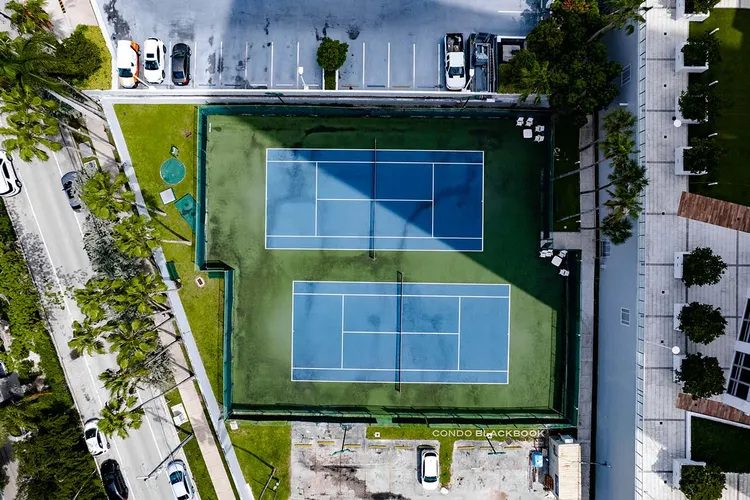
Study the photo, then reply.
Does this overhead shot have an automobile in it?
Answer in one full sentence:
Yes, the picture does show an automobile.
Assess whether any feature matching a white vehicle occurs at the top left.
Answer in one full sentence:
Yes, a white vehicle can be seen at the top left.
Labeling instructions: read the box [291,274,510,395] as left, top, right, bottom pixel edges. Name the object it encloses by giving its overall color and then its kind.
blue tennis court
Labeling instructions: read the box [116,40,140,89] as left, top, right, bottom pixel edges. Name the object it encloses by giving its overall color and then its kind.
white car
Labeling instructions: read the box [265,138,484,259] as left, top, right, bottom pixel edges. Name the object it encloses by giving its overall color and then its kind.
blue tennis court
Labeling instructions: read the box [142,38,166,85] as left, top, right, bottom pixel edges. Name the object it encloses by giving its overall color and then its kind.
white car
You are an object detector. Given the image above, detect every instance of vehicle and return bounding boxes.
[116,40,140,89]
[169,45,191,87]
[142,38,166,85]
[168,460,197,500]
[444,34,466,92]
[100,460,131,500]
[467,32,495,92]
[419,444,439,488]
[59,170,88,213]
[82,415,112,457]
